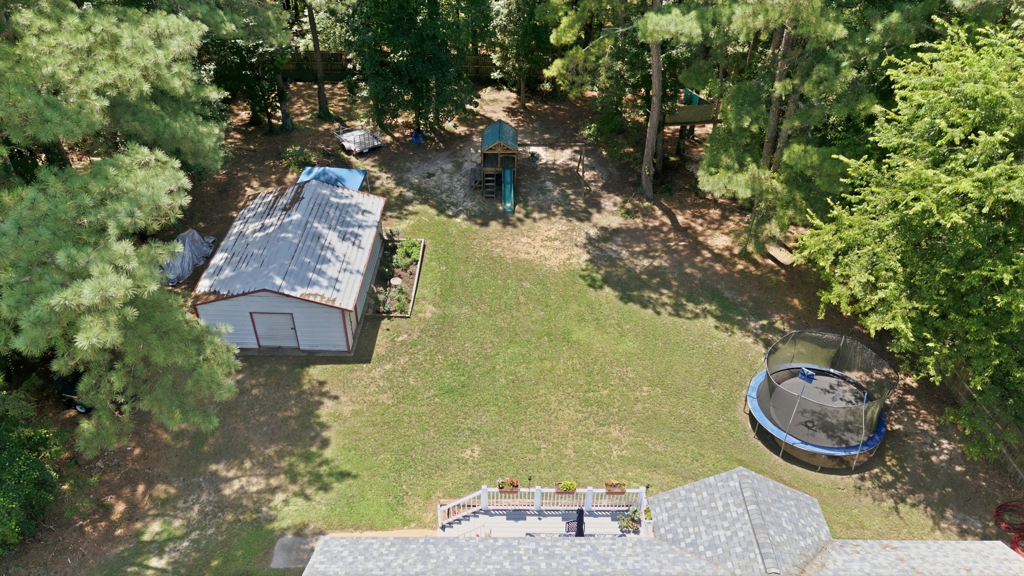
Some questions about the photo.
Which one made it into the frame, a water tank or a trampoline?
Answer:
trampoline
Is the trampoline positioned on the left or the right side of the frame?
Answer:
right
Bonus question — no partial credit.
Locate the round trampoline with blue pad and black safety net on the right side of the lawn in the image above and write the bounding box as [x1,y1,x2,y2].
[746,323,896,472]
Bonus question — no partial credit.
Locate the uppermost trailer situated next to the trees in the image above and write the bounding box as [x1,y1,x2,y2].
[332,117,383,154]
